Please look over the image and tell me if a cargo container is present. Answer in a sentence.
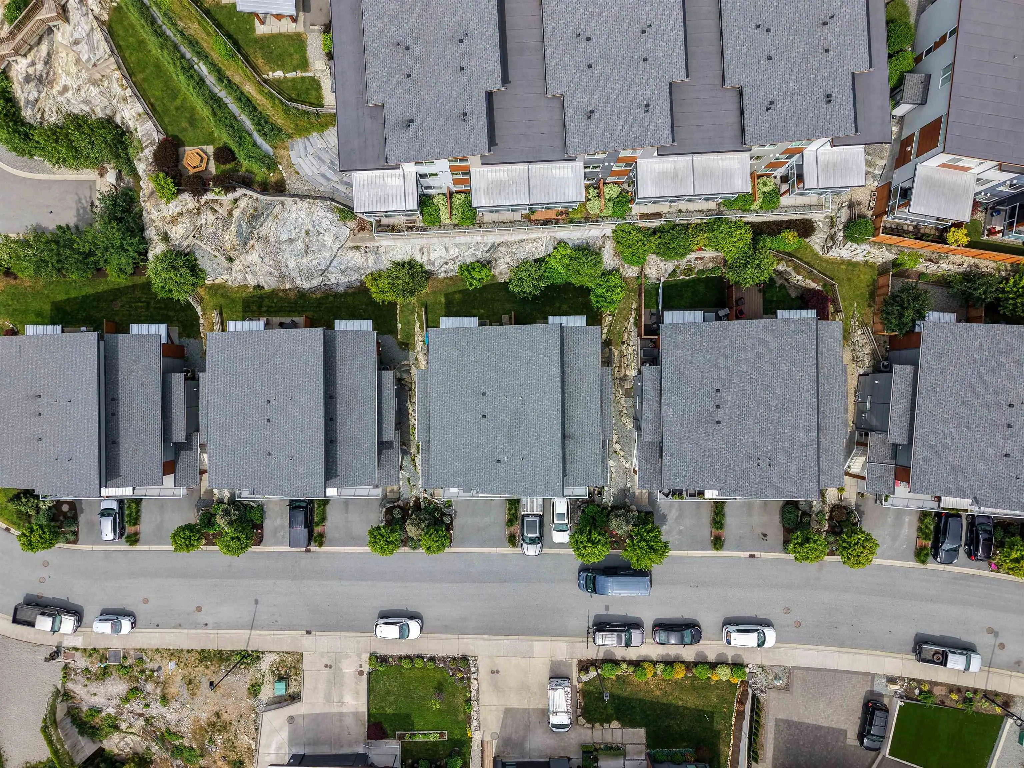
No, the scene contains no cargo container.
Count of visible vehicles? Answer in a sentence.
Altogether the scene contains 16 vehicles.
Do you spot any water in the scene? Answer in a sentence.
No, the scene doesn't show any water.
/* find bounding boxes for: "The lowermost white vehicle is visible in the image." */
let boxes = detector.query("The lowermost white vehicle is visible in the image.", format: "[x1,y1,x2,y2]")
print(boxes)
[548,673,572,727]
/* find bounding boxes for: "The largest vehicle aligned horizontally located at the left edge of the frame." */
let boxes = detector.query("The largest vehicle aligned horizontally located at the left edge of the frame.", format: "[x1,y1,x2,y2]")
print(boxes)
[13,603,82,634]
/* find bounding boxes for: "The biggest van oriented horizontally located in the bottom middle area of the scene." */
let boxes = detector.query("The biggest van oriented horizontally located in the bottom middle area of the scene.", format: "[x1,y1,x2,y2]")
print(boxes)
[578,566,649,594]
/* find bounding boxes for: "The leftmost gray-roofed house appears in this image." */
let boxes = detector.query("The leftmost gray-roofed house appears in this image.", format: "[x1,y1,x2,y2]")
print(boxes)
[0,323,201,499]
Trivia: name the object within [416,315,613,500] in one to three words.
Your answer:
house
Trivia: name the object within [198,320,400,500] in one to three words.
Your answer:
house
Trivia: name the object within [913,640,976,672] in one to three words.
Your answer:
truck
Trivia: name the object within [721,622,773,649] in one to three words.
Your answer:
car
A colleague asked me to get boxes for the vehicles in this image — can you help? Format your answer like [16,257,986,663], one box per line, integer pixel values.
[961,513,993,562]
[721,622,773,649]
[100,497,127,542]
[548,673,572,727]
[856,696,887,748]
[549,497,572,544]
[375,615,423,641]
[651,621,699,647]
[593,621,642,648]
[578,566,649,594]
[95,611,139,636]
[289,497,315,549]
[13,603,82,634]
[520,498,544,551]
[913,640,976,672]
[929,512,962,564]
